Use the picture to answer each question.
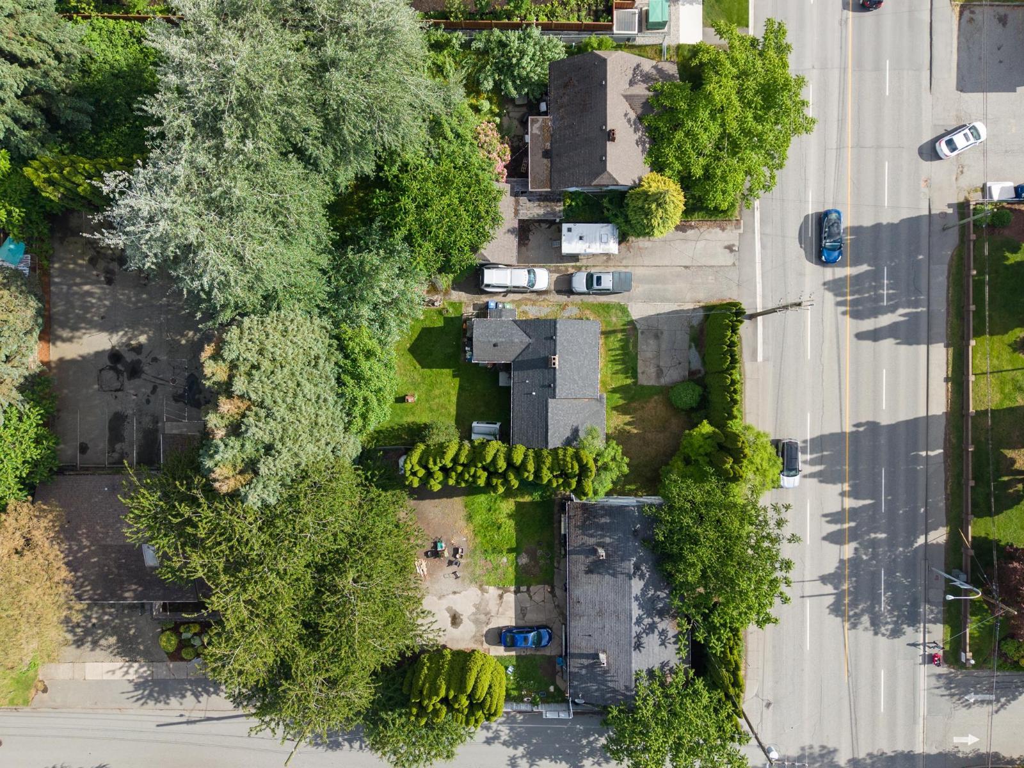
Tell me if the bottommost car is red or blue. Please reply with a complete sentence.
In this view, the bottommost car is blue.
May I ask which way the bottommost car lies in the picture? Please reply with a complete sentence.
From this overhead view, the bottommost car appears to run from left to right.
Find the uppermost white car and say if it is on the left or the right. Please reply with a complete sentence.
The uppermost white car is on the right side of the image.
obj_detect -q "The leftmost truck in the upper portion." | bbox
[480,266,549,294]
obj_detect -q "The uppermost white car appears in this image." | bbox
[929,122,988,162]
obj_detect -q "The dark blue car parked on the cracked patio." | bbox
[500,624,551,650]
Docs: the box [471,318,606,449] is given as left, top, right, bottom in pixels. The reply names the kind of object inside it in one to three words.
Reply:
house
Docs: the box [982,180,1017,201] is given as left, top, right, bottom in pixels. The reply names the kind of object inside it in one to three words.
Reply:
trailer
